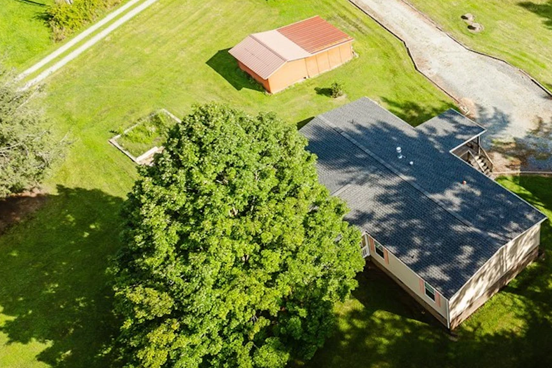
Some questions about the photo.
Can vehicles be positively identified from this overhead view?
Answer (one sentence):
No, I can't see a single vehicle in this photo.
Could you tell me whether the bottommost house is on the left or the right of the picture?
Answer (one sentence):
You can find the bottommost house on the right side of the picture.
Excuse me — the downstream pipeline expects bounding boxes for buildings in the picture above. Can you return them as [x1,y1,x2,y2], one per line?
[288,97,548,333]
[230,16,354,95]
